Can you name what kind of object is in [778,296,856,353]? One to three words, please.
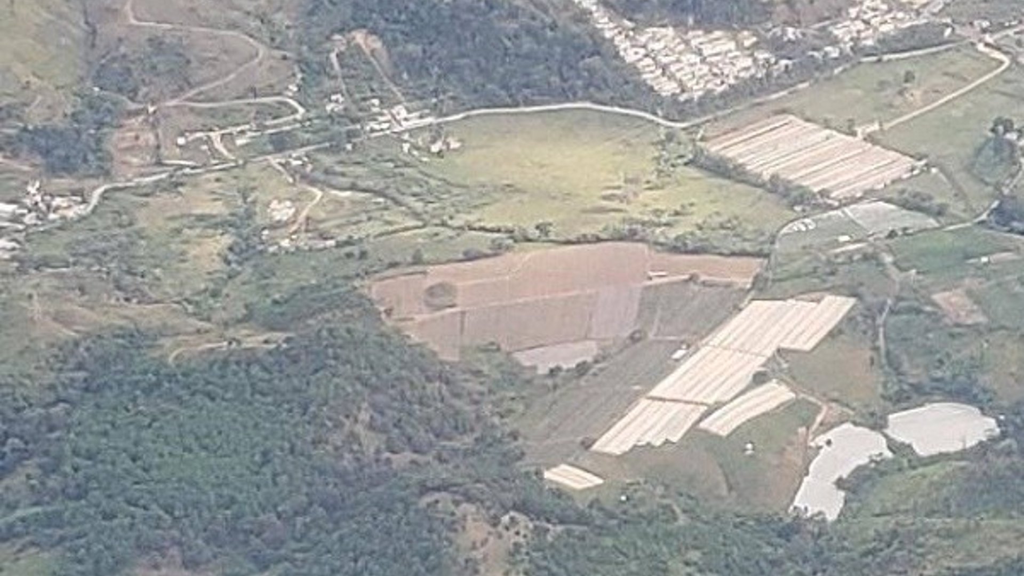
greenhouse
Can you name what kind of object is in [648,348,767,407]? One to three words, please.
greenhouse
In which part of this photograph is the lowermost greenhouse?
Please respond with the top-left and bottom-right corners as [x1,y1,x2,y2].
[545,464,604,487]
